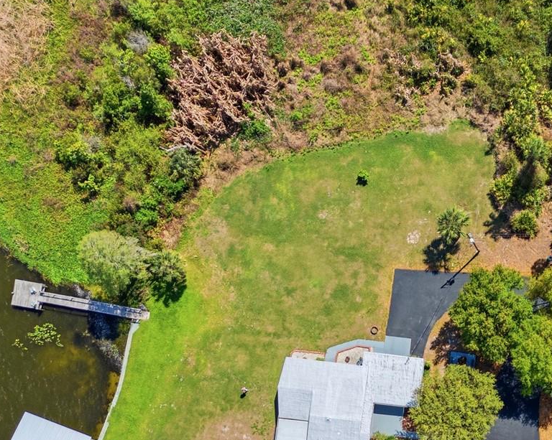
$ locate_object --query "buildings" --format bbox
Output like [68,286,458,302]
[276,352,424,440]
[11,412,100,440]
